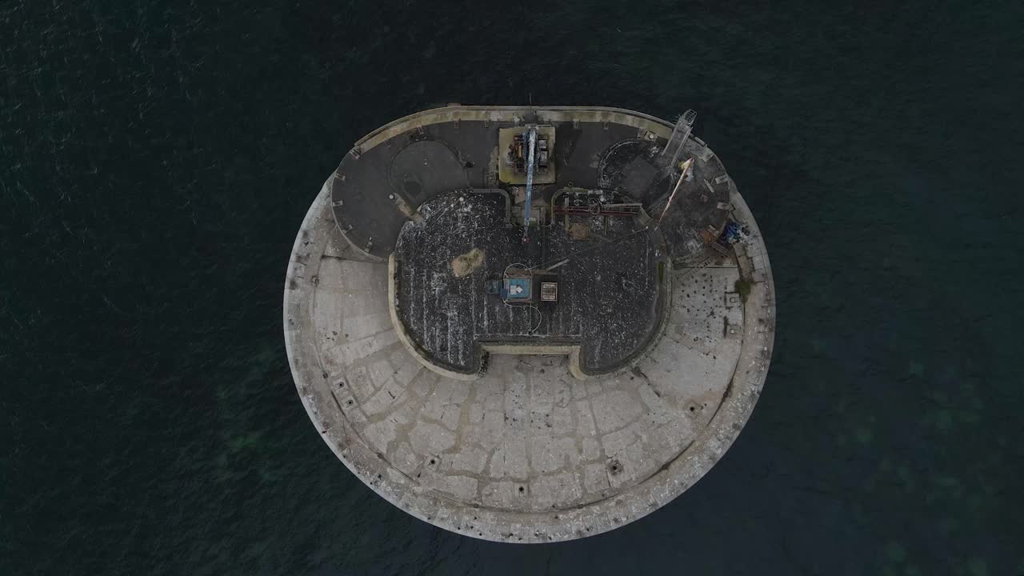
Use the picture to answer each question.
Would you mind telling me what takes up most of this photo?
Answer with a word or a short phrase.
water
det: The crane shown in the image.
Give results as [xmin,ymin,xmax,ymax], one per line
[510,120,552,243]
